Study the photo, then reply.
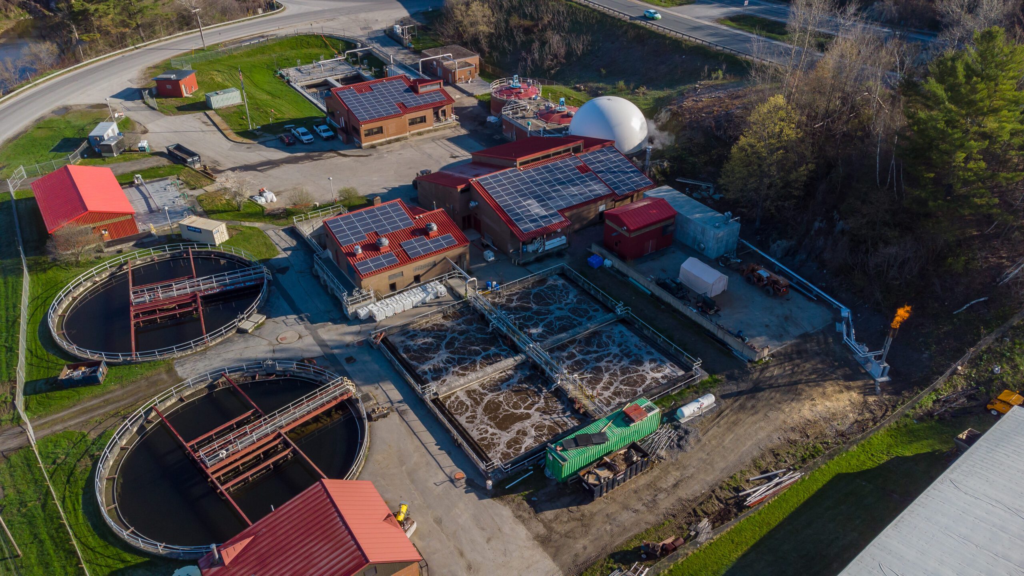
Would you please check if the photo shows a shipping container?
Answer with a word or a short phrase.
Yes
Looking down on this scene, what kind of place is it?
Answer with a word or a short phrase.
industrial area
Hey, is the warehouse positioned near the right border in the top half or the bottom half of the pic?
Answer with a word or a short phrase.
bottom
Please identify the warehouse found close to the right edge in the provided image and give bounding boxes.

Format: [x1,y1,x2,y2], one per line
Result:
[829,402,1024,576]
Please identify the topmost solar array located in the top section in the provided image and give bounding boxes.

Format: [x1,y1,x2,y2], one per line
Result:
[338,77,447,120]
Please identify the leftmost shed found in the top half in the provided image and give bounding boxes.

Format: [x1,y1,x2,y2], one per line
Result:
[33,163,137,253]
